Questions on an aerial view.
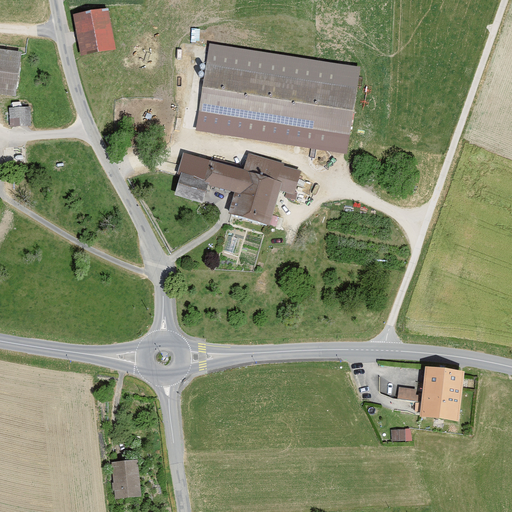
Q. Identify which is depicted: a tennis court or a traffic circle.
traffic circle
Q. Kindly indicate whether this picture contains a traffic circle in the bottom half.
Yes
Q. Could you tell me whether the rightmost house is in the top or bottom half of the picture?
bottom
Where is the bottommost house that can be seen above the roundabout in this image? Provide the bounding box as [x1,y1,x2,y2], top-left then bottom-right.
[175,153,300,227]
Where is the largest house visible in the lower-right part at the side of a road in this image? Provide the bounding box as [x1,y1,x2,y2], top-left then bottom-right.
[420,366,464,421]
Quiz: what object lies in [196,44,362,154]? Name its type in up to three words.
barn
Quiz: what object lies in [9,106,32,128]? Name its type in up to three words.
shed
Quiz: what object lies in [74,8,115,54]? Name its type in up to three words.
barn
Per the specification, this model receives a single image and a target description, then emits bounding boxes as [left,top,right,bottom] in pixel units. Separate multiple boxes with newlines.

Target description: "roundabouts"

[134,329,192,387]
